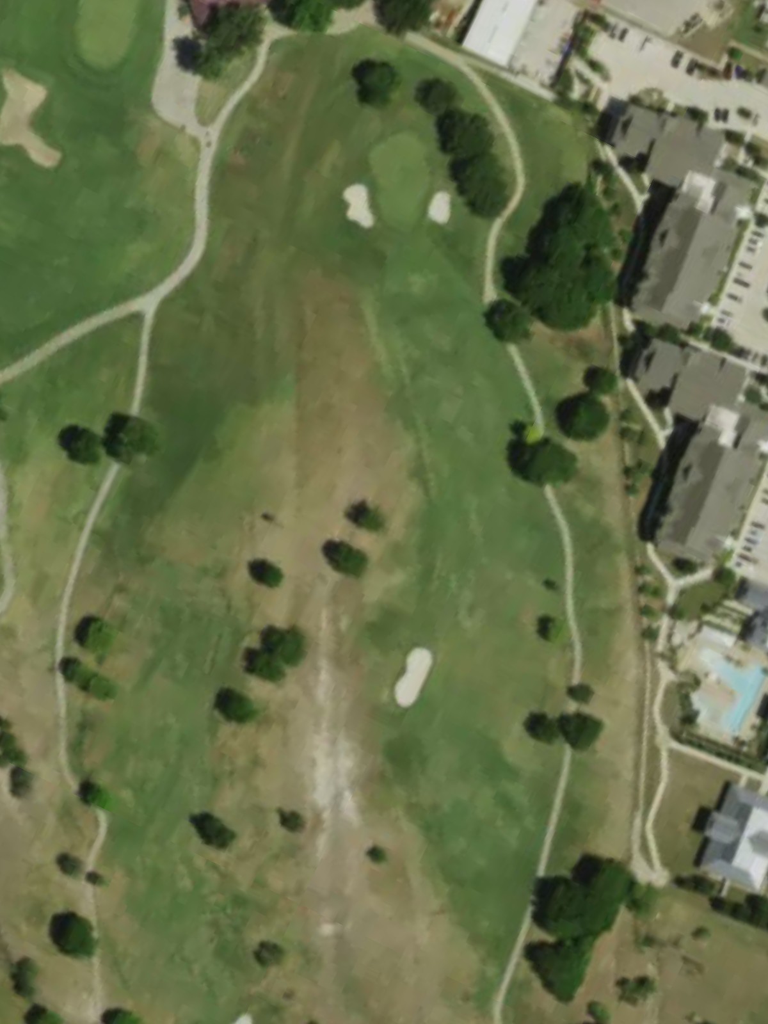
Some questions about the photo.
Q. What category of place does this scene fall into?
golf course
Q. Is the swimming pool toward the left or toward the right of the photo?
right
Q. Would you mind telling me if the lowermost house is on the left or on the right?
right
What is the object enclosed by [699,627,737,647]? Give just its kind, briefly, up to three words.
building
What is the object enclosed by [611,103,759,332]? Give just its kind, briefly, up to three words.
building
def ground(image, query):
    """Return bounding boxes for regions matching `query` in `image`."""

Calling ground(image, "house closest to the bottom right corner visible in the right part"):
[700,782,768,897]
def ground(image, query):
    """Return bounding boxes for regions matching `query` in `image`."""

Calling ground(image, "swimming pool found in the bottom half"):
[675,624,768,756]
